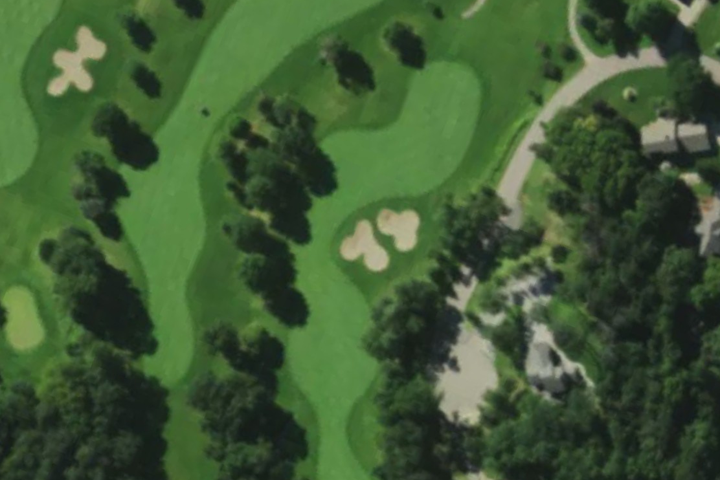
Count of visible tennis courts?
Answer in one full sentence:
The photo contains no tennis courts.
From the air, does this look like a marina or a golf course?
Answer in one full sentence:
It's a golf course.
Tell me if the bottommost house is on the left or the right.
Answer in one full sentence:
The bottommost house is on the right side of the image.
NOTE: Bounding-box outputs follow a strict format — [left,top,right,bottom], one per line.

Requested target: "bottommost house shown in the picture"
[524,349,572,392]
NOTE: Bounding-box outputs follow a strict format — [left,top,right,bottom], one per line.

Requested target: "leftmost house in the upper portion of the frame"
[640,118,680,156]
